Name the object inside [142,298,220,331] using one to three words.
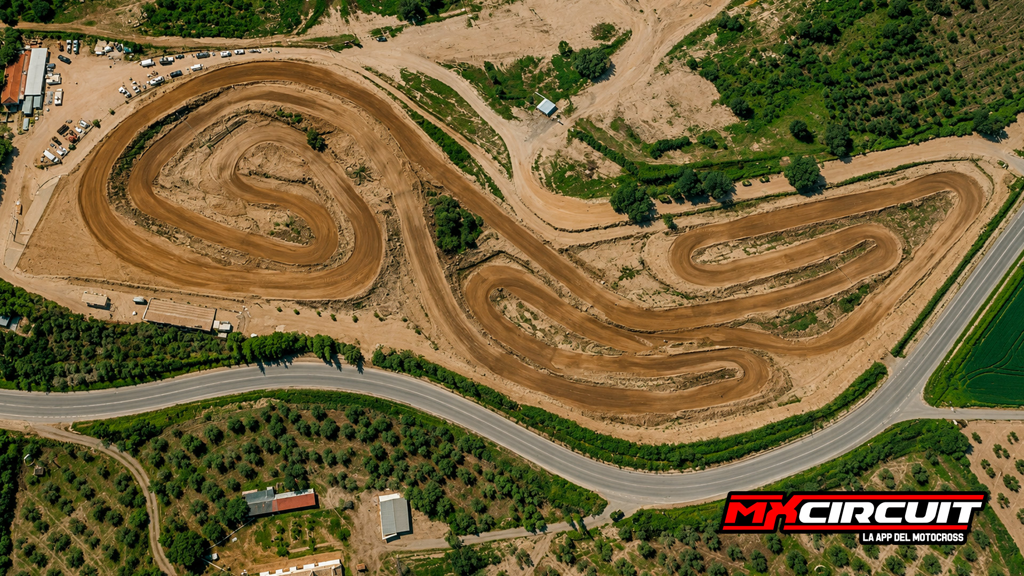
barn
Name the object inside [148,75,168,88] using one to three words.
vehicle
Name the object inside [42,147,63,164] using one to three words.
vehicle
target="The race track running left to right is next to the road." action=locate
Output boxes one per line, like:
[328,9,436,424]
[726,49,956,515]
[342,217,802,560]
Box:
[78,61,983,414]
